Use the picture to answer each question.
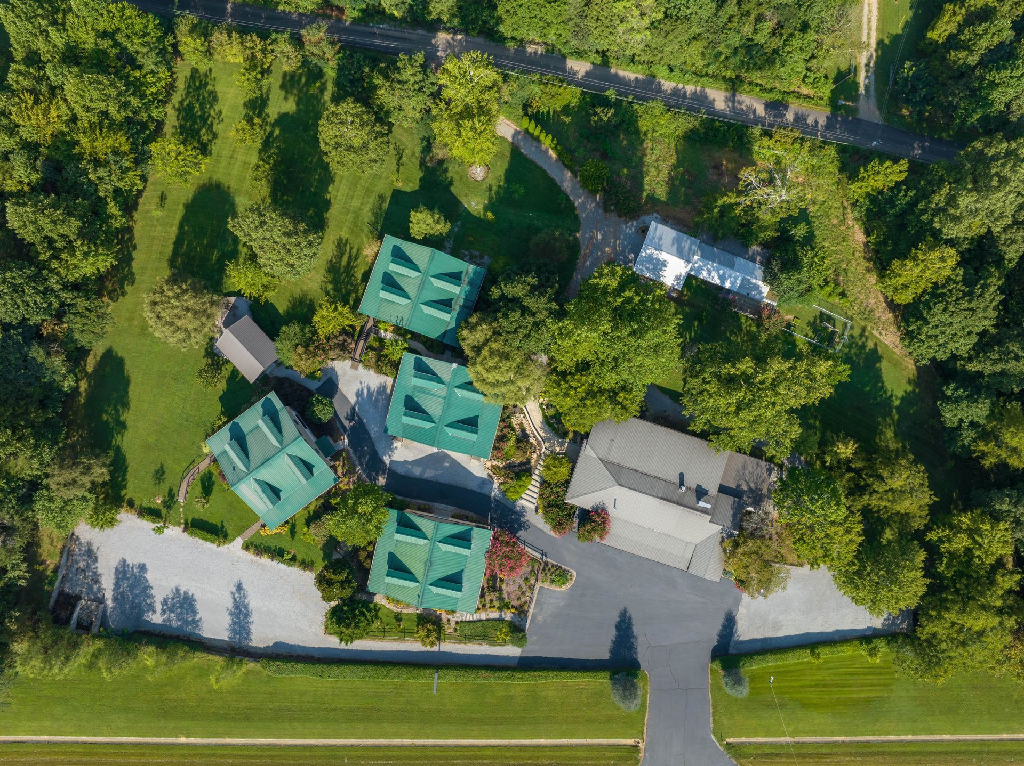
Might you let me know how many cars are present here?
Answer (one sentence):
The picture shows no cars.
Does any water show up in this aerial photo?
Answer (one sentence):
No, water can't be seen anywhere here.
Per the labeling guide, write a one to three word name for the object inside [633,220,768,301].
house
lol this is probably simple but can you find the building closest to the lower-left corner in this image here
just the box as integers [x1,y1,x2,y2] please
[205,391,343,531]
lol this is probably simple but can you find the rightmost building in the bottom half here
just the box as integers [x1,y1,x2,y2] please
[565,410,772,583]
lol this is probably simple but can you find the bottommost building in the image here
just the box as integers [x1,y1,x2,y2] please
[367,507,494,615]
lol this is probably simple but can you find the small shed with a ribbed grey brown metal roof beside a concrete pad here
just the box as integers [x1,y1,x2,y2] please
[216,315,281,383]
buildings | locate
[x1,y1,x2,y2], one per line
[383,353,507,460]
[565,410,772,583]
[633,220,768,301]
[216,315,281,383]
[358,235,487,347]
[367,507,494,615]
[205,391,343,531]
